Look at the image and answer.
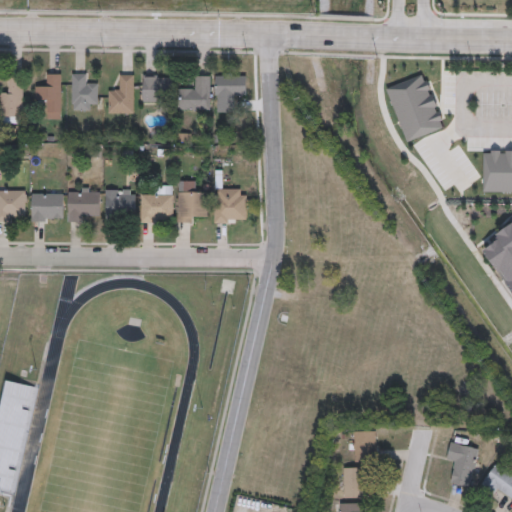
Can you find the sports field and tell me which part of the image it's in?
bottom left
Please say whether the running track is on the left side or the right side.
left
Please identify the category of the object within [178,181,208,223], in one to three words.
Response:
house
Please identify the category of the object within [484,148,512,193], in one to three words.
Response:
building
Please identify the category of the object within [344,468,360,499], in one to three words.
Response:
house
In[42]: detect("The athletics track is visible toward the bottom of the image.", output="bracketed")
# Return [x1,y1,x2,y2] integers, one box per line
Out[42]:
[12,276,200,512]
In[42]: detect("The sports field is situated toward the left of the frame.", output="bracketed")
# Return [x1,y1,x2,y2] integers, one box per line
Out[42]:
[40,340,173,512]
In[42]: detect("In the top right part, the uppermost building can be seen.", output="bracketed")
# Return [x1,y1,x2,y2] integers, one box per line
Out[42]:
[388,74,443,141]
